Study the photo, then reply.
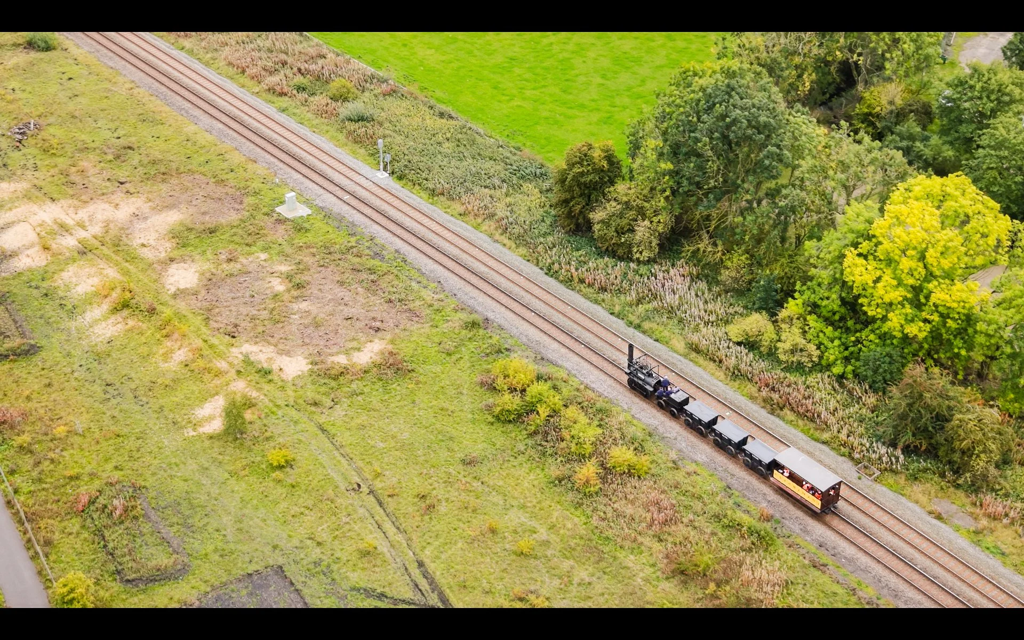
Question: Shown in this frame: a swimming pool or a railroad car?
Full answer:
It is a railroad car that can be seen here.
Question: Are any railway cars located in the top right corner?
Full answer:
No, there's no railway car to be seen in the top right corner.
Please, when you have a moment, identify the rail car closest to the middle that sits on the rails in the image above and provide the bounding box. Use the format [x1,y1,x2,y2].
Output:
[620,344,665,401]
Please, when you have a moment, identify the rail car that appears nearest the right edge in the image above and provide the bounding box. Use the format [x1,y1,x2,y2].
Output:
[769,447,842,515]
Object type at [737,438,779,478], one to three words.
rail car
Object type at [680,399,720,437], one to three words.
rail car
